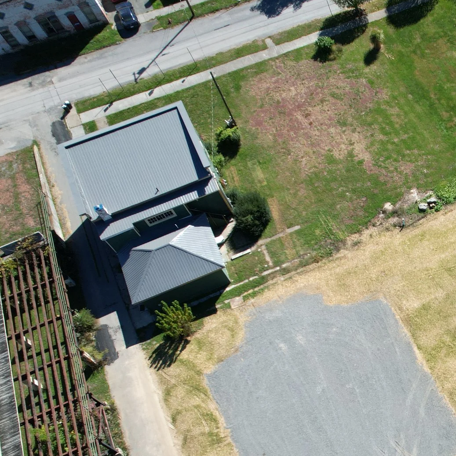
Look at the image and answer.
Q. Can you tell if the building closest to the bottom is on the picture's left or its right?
left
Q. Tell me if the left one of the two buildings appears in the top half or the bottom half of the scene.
top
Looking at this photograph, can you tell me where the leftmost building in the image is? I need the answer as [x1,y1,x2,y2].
[0,0,109,55]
